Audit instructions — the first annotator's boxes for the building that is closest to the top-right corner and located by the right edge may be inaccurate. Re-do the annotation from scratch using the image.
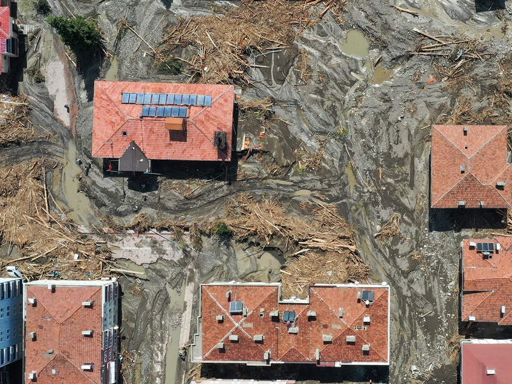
[430,125,512,208]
